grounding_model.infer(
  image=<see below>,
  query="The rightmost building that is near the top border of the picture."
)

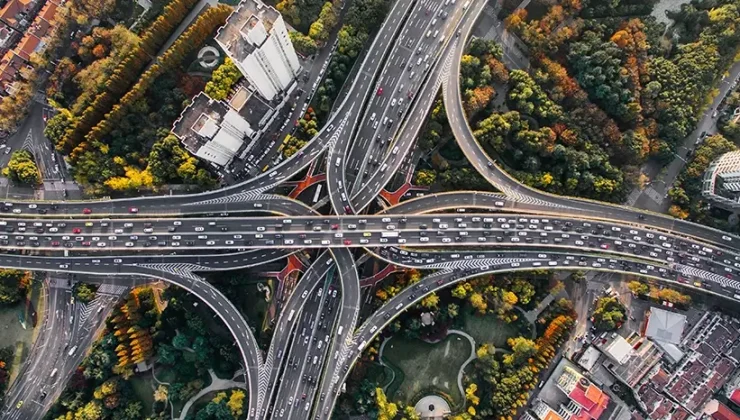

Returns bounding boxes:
[218,0,304,103]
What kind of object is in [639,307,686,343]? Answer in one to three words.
building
